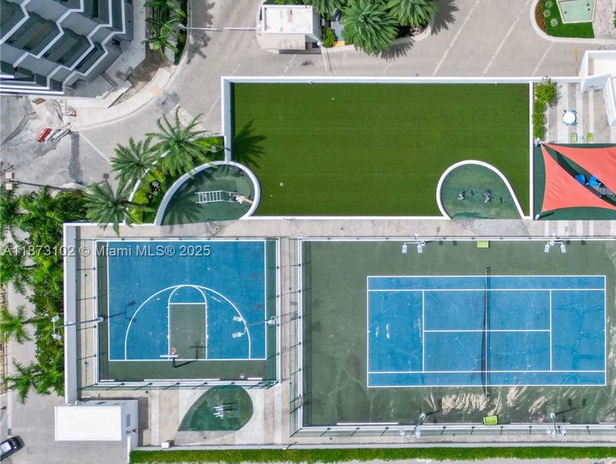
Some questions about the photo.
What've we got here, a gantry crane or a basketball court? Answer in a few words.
basketball court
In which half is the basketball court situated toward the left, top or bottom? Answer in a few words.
bottom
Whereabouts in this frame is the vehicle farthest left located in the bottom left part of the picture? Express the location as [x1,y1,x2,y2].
[0,434,25,461]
